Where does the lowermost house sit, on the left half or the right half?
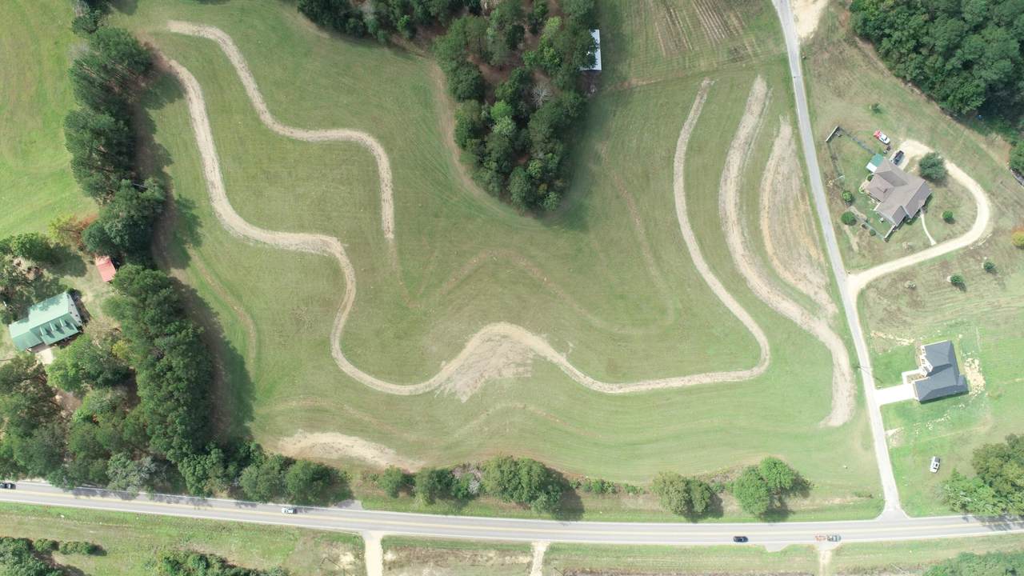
right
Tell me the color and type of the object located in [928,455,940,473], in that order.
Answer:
white vehicle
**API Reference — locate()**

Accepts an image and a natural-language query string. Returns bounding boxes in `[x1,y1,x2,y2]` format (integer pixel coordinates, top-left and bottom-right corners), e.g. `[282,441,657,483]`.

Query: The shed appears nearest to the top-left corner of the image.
[94,257,115,282]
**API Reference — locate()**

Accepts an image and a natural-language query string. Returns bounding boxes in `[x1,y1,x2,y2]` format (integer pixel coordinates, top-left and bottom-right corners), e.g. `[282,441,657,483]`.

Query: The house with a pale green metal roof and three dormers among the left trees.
[9,292,87,351]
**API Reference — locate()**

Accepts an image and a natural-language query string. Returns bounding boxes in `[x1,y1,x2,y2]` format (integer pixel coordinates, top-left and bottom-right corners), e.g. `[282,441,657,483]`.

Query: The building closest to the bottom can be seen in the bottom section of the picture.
[910,338,970,406]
